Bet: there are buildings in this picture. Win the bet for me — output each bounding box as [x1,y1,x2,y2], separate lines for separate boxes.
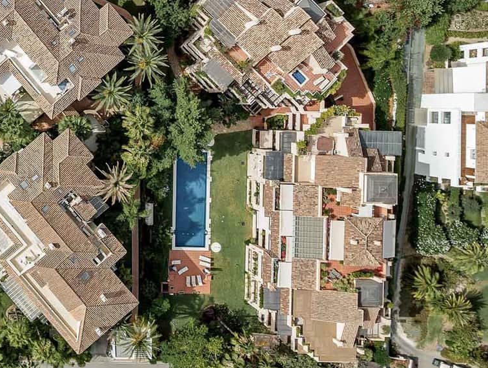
[410,44,488,192]
[0,129,139,353]
[239,110,403,365]
[172,0,357,118]
[0,0,134,120]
